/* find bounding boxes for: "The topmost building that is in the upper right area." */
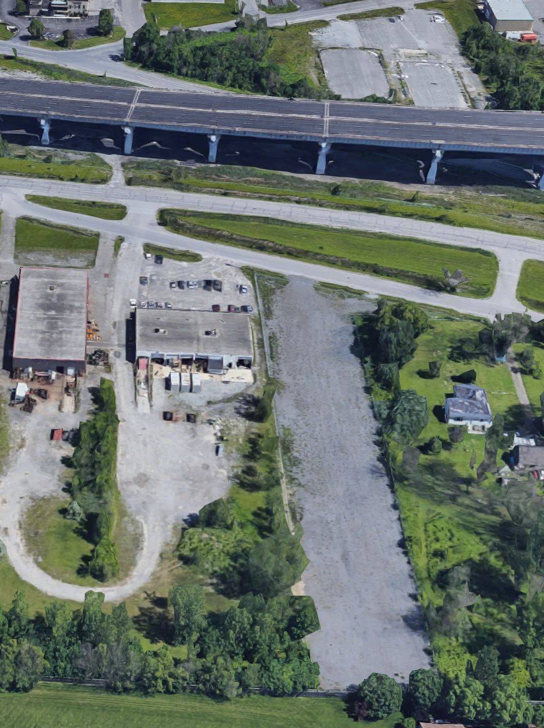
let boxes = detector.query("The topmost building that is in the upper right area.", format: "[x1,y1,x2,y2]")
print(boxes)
[480,0,534,35]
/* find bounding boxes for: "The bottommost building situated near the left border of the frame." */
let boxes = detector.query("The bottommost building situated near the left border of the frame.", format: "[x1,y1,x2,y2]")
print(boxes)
[13,267,89,378]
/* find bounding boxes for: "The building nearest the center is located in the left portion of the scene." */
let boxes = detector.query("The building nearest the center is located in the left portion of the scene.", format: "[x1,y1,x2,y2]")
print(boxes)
[134,306,254,374]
